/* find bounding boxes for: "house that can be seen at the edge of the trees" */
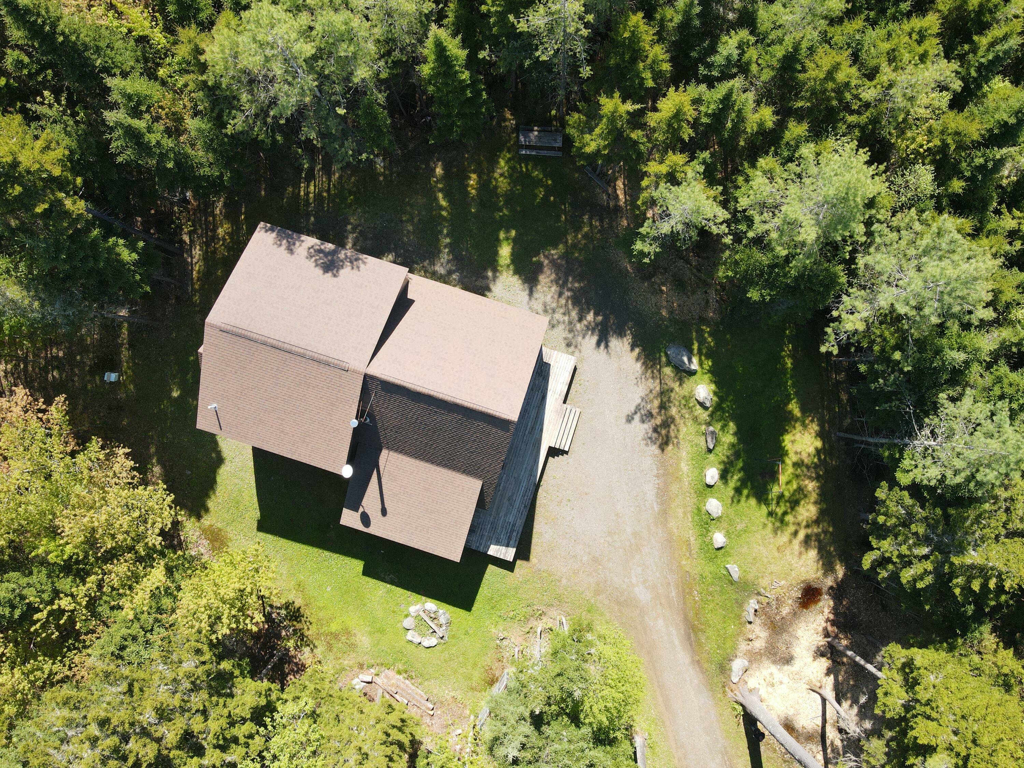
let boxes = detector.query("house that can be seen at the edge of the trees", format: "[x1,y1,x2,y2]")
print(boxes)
[196,221,550,561]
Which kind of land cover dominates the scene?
trees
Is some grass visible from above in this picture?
Yes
